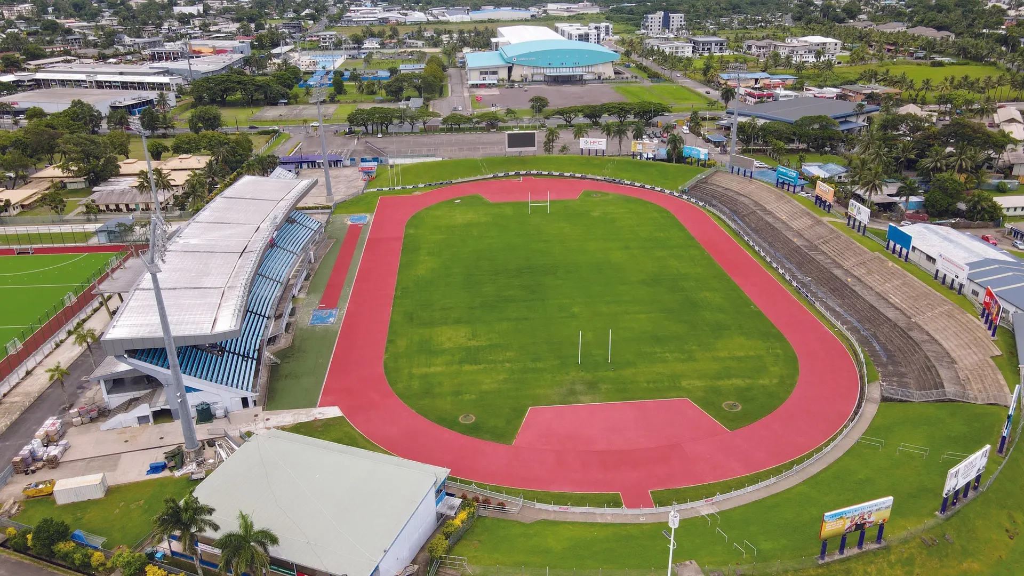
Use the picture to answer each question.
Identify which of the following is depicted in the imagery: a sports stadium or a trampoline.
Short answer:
sports stadium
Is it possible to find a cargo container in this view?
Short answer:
Yes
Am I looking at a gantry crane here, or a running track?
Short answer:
running track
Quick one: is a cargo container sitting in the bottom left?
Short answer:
Yes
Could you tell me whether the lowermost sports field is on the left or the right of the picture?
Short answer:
left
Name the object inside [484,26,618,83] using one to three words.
stadium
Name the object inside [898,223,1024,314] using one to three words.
shed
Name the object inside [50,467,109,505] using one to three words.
shipping container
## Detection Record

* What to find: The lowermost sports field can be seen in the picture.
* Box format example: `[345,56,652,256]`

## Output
[0,252,129,353]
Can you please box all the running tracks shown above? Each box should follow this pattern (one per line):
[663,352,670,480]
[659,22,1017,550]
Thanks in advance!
[319,178,858,492]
